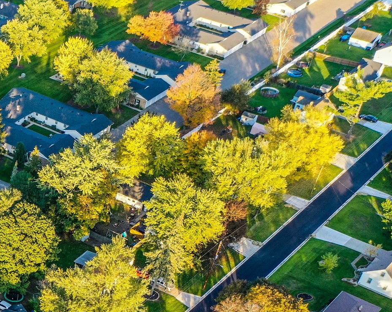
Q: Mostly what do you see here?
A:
trees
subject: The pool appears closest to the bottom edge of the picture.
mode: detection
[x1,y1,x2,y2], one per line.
[260,84,282,96]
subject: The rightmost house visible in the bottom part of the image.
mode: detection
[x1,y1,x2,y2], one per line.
[358,246,392,294]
